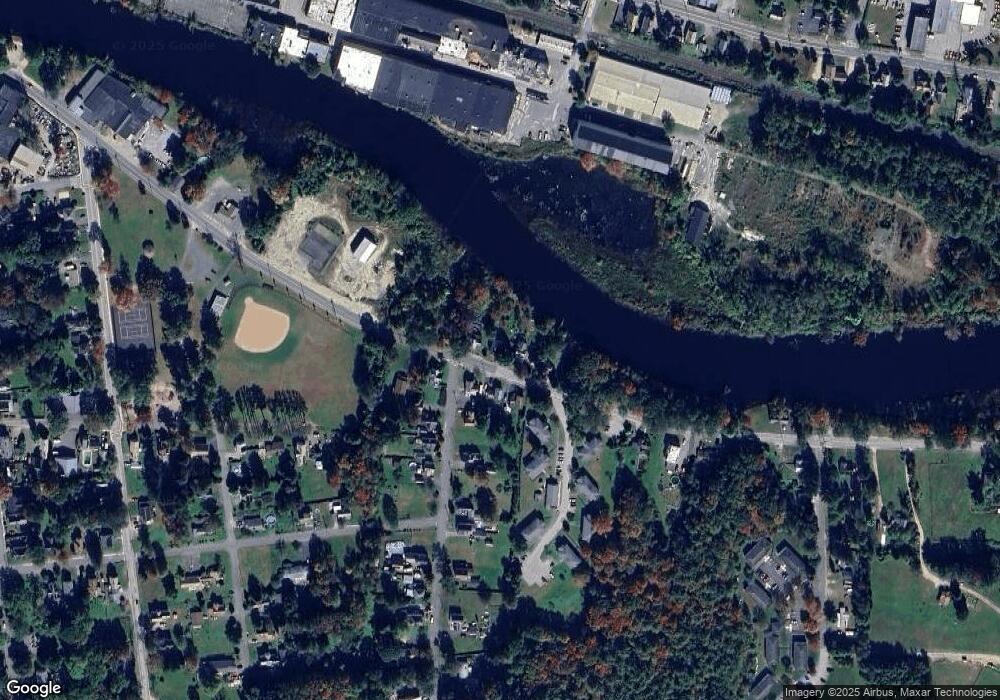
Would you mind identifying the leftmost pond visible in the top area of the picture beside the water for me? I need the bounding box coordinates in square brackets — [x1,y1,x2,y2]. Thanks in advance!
[482,155,654,253]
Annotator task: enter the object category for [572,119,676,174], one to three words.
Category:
shed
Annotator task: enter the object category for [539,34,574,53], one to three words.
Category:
building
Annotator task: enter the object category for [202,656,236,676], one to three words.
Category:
house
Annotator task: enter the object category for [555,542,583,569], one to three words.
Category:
house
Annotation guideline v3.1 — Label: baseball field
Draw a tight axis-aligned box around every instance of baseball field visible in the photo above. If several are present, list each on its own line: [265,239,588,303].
[216,281,363,430]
